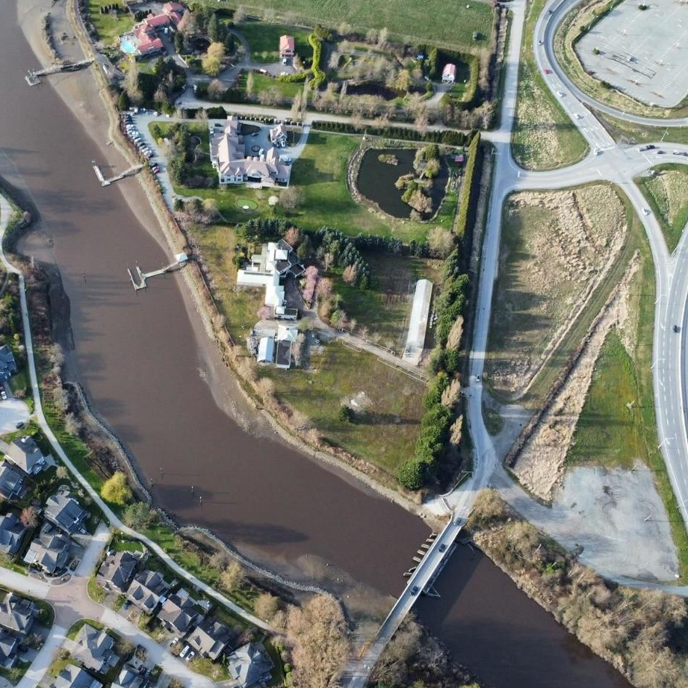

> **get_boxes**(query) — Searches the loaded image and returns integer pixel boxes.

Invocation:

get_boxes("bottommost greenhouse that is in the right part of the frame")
[403,282,431,362]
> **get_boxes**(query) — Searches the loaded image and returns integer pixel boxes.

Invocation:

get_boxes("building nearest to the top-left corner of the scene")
[131,0,188,61]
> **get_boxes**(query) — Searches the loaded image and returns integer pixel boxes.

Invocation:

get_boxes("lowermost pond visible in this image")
[350,144,456,224]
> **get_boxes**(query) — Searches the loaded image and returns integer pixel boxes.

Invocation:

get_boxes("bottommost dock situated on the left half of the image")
[126,252,189,291]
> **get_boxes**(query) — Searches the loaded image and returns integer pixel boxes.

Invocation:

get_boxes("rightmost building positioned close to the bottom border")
[225,641,277,688]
